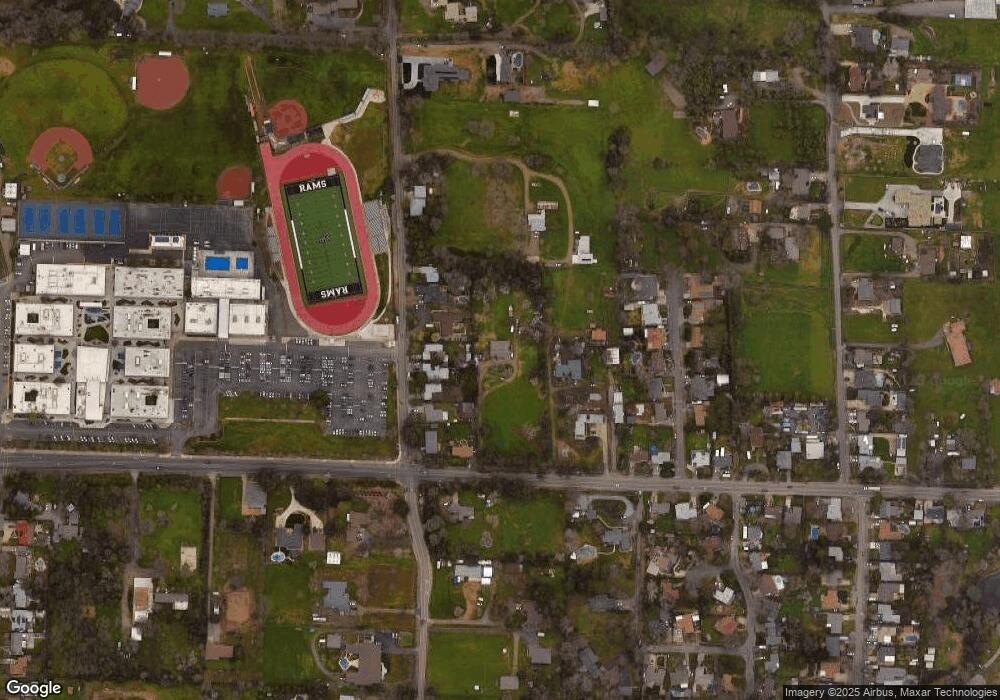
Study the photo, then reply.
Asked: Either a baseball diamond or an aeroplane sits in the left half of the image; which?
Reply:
baseball diamond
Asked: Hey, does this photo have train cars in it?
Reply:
No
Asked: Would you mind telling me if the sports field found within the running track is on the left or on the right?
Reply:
left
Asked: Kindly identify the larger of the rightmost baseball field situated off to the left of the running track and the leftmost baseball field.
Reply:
the leftmost baseball field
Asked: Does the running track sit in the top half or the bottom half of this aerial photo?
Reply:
top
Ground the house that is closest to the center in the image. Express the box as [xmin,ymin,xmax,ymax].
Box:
[490,341,511,358]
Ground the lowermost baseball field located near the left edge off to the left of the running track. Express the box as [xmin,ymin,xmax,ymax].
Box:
[28,126,95,190]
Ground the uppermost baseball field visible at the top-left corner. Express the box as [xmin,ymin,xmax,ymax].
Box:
[135,55,189,110]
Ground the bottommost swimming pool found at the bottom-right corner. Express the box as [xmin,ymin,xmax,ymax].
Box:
[901,632,920,644]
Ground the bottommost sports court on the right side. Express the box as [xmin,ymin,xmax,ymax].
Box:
[913,144,944,174]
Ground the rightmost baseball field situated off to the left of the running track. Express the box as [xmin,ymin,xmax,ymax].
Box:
[216,164,253,205]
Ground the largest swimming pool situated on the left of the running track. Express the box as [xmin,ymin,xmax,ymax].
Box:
[205,257,230,271]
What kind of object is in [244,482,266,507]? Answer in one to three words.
house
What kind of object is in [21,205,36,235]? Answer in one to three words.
tennis court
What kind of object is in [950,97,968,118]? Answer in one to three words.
swimming pool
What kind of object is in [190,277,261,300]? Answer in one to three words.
building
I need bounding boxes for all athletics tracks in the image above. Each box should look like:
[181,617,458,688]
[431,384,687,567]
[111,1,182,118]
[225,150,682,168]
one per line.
[262,143,380,336]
